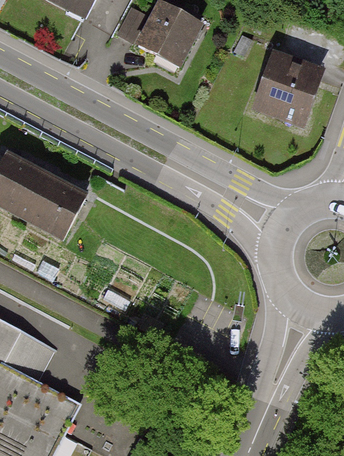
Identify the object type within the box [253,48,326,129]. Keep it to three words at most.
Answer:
house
